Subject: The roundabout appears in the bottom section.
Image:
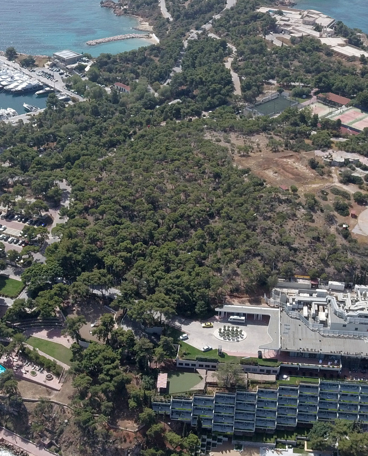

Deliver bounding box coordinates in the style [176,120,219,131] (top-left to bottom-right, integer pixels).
[212,324,248,347]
